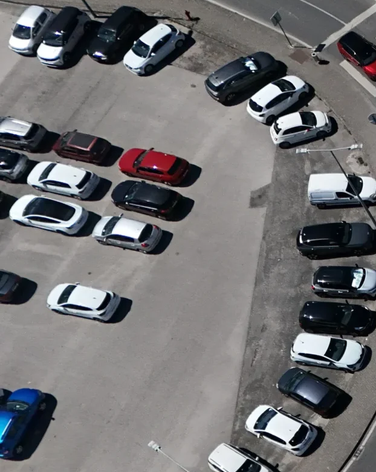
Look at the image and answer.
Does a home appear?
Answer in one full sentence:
No, no home is visible in the scene.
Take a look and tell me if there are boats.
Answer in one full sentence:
No, no boat can be seen from above.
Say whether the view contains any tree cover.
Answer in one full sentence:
No, there is no tree cover in the image.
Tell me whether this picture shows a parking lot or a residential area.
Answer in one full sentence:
It's a parking lot.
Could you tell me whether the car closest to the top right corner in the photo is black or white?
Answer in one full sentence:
The color of the car closest to the top right corner is black.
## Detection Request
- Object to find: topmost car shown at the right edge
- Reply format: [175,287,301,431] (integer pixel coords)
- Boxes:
[333,31,376,80]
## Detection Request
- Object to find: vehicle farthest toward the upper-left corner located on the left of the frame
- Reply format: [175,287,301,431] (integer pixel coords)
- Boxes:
[11,7,60,54]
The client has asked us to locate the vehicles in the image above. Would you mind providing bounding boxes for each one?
[92,217,163,258]
[288,336,368,378]
[50,131,114,171]
[297,301,375,340]
[276,368,344,423]
[310,265,376,302]
[28,163,101,205]
[110,182,183,224]
[92,10,155,65]
[45,284,123,327]
[246,405,319,458]
[305,174,376,212]
[208,58,282,106]
[296,221,376,260]
[199,436,271,472]
[0,149,34,186]
[10,198,91,241]
[333,31,376,80]
[11,7,60,54]
[128,26,190,77]
[40,14,94,67]
[0,271,27,307]
[0,392,43,466]
[0,115,52,158]
[272,113,333,152]
[250,80,316,127]
[118,148,193,190]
